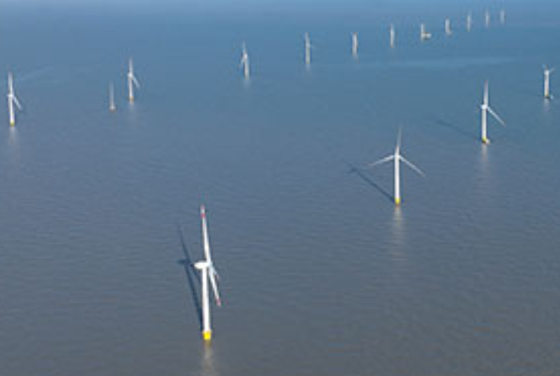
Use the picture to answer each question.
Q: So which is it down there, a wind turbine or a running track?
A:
wind turbine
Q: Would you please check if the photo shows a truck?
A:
No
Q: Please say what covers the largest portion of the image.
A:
water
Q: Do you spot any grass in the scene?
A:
No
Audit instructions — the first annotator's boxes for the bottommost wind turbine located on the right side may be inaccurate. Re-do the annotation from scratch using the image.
[371,123,425,203]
